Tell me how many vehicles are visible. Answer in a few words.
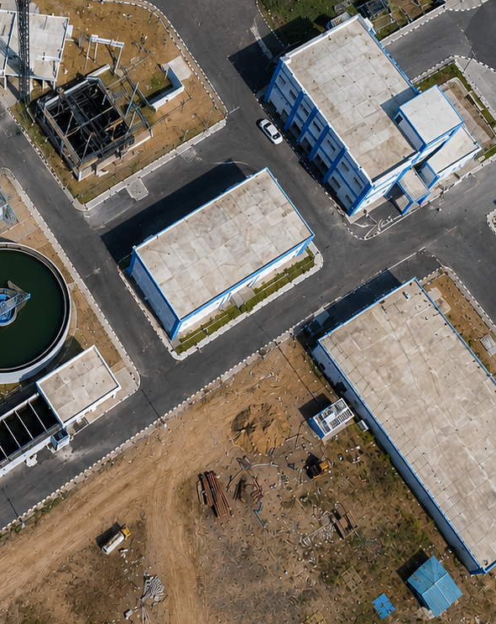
3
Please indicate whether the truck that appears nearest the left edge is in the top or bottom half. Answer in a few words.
bottom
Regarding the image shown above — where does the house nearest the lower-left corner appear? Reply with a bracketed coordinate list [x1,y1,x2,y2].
[37,347,122,430]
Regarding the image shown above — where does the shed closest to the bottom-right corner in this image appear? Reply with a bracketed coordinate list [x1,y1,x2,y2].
[401,557,463,617]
